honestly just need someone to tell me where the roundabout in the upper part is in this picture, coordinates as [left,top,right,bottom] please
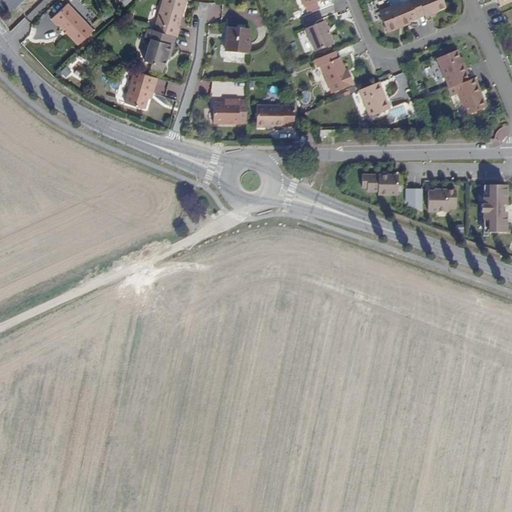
[220,150,282,210]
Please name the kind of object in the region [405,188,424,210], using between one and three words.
shed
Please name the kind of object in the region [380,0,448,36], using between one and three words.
house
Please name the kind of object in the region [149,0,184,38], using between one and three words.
house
